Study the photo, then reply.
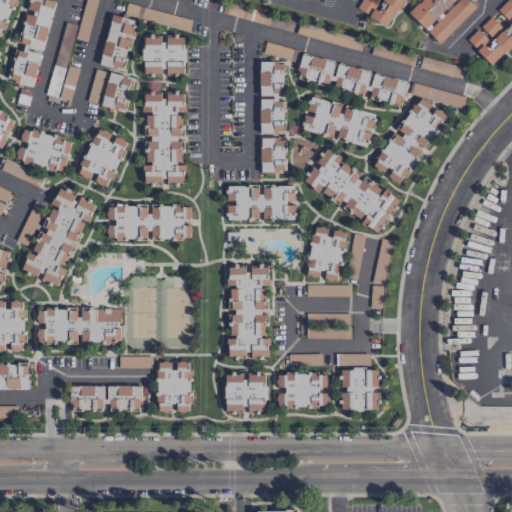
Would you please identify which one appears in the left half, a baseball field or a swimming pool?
swimming pool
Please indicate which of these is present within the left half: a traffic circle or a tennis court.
tennis court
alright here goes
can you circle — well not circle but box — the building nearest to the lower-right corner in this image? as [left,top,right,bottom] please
[340,368,382,412]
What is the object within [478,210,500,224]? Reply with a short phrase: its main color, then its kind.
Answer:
white vehicle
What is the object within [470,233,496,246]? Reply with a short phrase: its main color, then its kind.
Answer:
white vehicle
